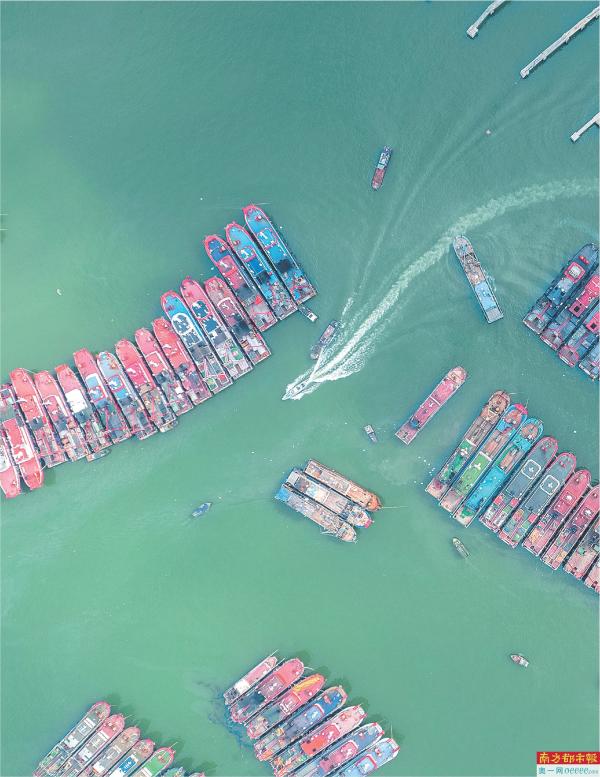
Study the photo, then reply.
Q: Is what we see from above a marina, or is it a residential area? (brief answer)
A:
marina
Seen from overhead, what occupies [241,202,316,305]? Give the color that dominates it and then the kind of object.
blue boat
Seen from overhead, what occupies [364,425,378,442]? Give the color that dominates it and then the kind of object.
white boat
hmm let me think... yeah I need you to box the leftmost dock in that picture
[466,0,508,39]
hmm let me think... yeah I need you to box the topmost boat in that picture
[369,145,393,190]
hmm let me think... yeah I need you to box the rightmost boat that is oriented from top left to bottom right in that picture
[511,653,529,668]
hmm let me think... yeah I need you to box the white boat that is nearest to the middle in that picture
[284,381,307,398]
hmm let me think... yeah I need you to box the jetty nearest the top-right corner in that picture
[517,8,600,79]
